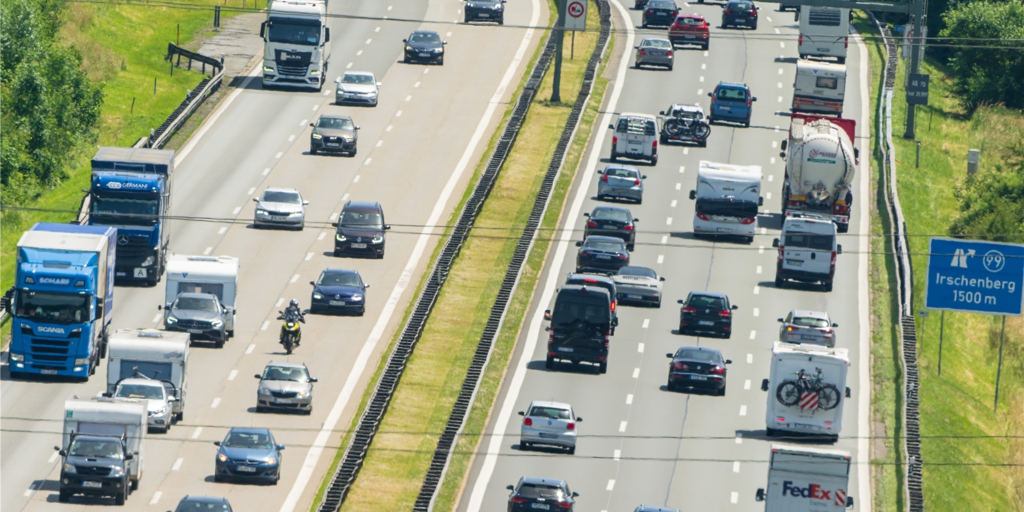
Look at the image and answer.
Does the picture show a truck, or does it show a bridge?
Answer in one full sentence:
Visible in the photo is a truck.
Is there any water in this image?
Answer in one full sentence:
No, there's no water in this view.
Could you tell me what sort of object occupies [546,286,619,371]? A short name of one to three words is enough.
van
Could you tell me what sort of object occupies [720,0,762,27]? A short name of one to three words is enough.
car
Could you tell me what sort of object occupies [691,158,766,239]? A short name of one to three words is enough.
camper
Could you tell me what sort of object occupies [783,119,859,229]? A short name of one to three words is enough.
truck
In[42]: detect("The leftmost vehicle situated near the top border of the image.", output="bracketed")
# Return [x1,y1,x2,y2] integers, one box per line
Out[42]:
[259,0,335,90]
